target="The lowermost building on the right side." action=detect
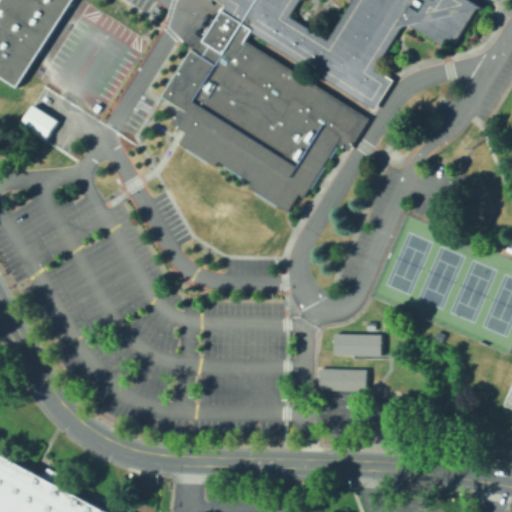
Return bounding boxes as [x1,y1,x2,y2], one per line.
[318,368,368,391]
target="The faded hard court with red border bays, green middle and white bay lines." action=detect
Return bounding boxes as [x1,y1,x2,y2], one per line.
[46,3,148,123]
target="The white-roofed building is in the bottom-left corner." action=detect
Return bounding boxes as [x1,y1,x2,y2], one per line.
[0,454,106,512]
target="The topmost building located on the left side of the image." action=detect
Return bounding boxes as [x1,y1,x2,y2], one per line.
[0,0,72,88]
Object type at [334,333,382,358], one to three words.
building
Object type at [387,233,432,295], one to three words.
tennis court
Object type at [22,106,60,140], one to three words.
shed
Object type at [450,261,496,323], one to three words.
tennis court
